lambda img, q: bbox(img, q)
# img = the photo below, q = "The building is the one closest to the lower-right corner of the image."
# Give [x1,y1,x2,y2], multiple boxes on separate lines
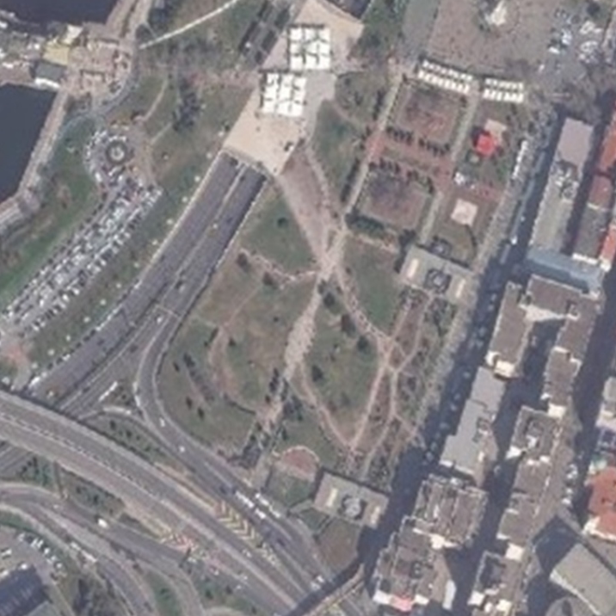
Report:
[549,543,616,616]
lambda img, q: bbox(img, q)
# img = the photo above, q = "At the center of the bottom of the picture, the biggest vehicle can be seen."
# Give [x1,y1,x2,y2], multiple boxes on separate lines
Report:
[233,489,256,507]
